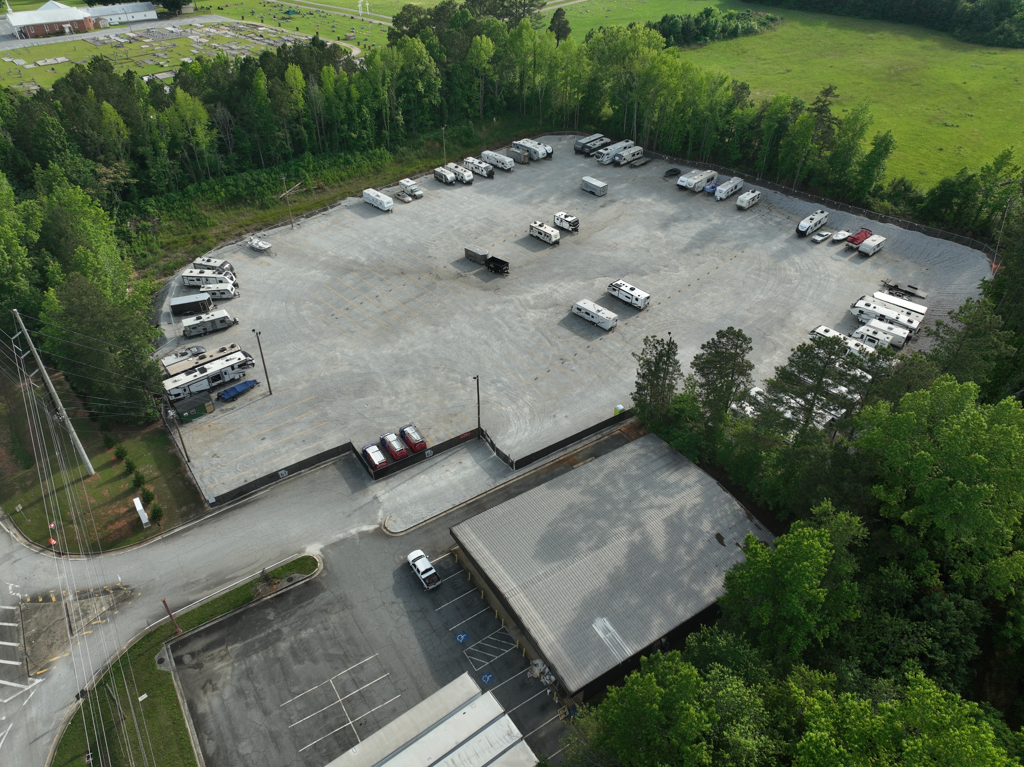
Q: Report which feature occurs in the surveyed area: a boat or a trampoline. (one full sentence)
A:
The image shows a boat.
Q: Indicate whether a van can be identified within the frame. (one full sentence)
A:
Yes, there's a van here.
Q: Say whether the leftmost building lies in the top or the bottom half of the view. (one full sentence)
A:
The leftmost building is in the top half of the image.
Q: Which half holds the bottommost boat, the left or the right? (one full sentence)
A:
The bottommost boat appears in the left half of the scene.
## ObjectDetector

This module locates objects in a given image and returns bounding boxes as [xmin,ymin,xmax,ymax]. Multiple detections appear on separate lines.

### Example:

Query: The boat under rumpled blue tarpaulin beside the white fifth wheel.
[217,378,263,401]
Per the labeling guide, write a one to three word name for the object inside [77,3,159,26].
building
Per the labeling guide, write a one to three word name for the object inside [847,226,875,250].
boat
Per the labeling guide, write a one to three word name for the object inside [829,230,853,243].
boat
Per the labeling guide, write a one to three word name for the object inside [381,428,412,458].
van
